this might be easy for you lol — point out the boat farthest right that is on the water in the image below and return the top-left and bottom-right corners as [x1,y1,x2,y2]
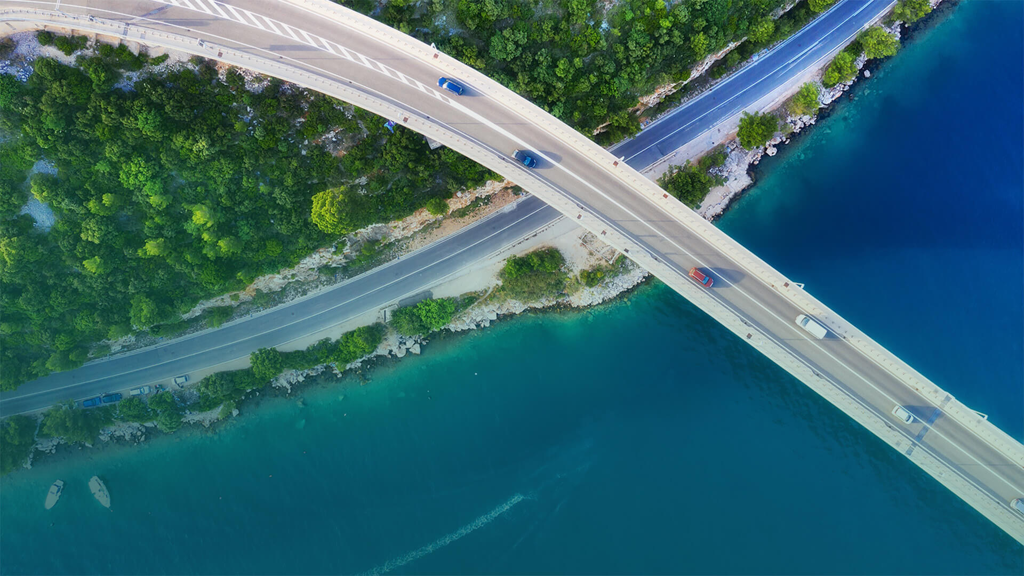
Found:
[89,475,112,508]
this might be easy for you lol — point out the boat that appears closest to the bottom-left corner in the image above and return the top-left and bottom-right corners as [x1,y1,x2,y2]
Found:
[46,478,67,509]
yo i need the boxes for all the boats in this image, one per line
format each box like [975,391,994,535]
[89,475,112,508]
[46,478,67,509]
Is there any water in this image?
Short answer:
Yes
